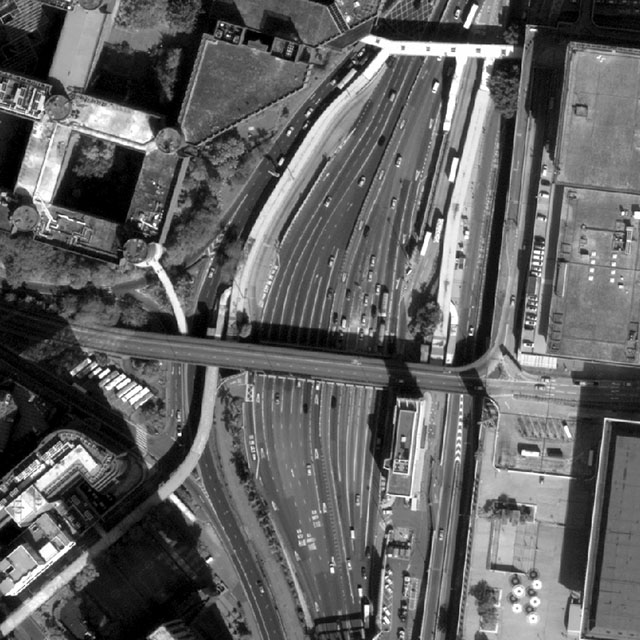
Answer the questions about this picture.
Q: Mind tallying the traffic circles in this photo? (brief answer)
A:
0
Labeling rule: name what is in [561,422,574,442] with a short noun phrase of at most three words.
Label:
vehicle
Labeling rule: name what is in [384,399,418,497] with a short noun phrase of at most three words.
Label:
building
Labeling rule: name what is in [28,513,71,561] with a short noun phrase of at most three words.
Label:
building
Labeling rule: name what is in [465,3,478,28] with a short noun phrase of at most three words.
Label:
vehicle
